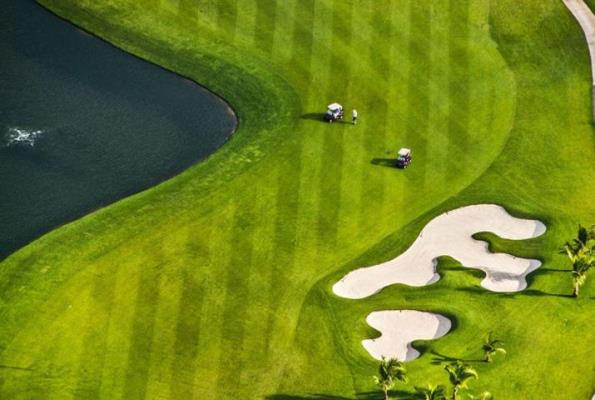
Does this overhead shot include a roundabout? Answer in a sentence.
No, the scene contains no roundabout.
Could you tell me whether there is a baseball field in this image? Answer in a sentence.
No, there appears to be no baseball field in this shot.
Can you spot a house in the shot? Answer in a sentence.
No, no house is visible in the scene.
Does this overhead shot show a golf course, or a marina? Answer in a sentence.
This image shows a golf course.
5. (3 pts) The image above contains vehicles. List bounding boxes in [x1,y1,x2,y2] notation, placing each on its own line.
[396,148,412,170]
[325,102,346,122]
